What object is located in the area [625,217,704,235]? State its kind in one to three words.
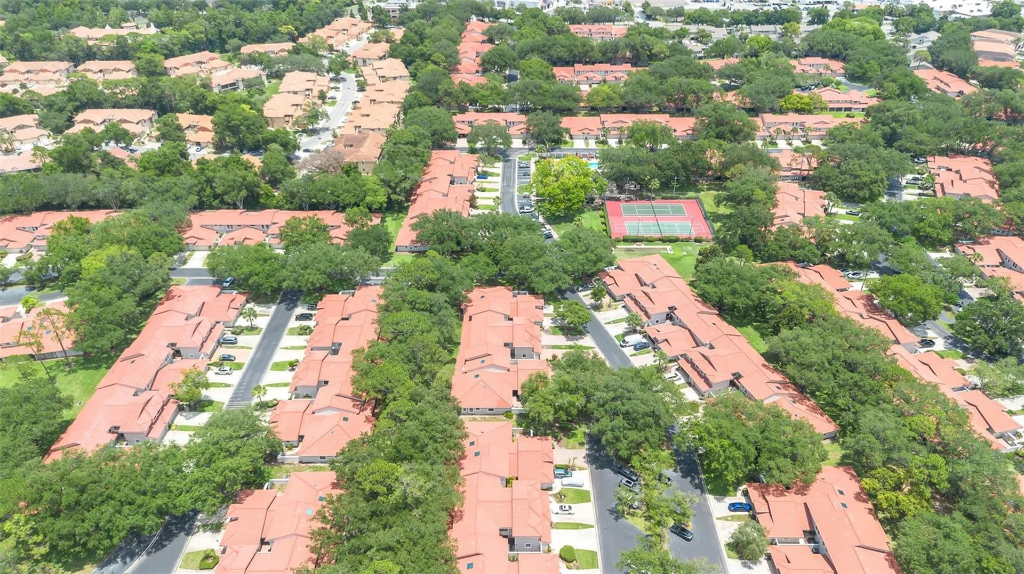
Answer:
tennis court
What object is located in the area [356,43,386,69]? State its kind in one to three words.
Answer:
house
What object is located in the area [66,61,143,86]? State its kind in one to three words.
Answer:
house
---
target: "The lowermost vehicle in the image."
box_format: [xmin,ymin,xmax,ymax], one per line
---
[669,525,694,542]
